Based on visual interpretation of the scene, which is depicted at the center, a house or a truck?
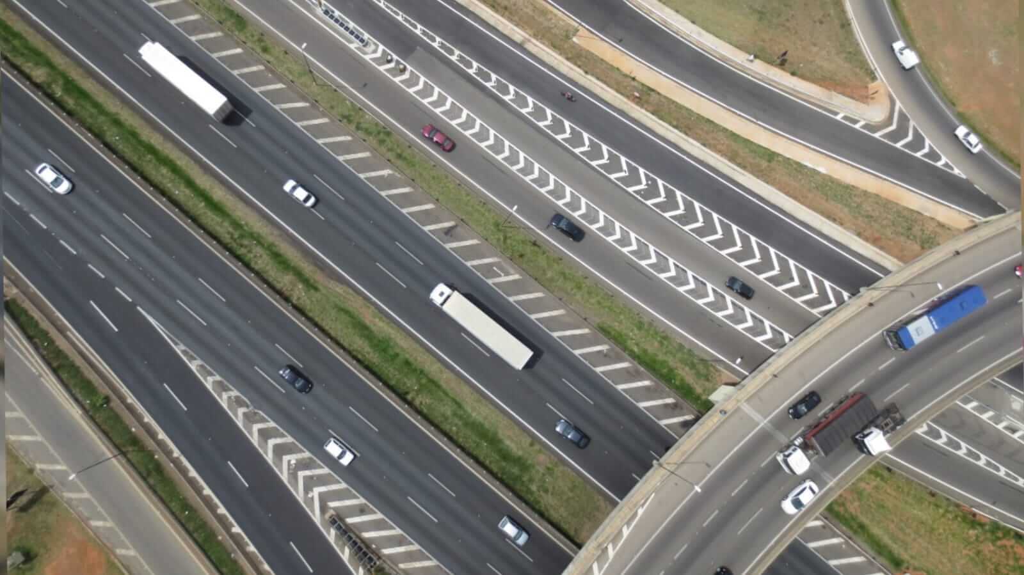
truck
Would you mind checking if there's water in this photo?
No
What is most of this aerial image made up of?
paved ground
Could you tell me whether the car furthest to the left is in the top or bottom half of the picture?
top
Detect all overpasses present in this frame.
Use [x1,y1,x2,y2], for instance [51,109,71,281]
[564,213,1024,575]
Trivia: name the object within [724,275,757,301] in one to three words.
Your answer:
car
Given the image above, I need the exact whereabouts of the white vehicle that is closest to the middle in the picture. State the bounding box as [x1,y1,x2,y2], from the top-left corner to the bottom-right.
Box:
[427,282,533,371]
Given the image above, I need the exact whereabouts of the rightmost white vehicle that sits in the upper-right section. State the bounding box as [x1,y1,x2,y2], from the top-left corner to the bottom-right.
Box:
[953,124,983,153]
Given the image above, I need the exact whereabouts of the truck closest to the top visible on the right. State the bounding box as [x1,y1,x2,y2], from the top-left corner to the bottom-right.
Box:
[890,38,921,71]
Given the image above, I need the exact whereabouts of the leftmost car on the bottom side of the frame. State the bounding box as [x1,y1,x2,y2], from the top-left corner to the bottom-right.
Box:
[279,364,313,394]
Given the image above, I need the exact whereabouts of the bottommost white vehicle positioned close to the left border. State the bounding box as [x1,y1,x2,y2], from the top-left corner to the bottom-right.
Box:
[35,162,74,195]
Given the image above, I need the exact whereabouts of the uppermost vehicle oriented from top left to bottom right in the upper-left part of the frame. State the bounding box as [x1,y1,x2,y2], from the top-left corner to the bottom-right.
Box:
[140,42,239,125]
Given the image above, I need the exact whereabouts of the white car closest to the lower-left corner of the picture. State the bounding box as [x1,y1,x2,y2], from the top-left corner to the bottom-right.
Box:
[323,438,355,467]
